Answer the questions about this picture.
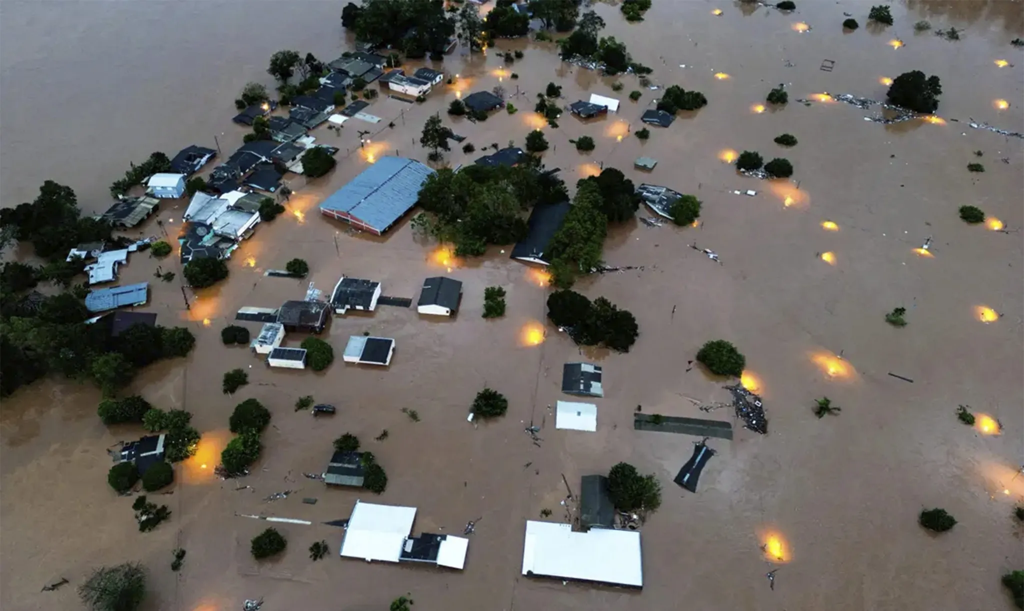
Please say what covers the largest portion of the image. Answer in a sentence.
The bulk of the photo consists of water.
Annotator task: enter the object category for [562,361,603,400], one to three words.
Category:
house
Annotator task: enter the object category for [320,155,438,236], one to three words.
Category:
building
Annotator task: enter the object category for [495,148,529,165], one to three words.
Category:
house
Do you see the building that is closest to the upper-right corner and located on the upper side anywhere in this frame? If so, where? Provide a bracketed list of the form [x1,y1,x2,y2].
[642,110,677,129]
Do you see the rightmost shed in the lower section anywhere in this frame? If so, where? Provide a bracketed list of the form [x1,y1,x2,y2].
[634,412,734,442]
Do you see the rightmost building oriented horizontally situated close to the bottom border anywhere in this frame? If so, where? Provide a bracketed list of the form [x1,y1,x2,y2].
[523,521,642,588]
